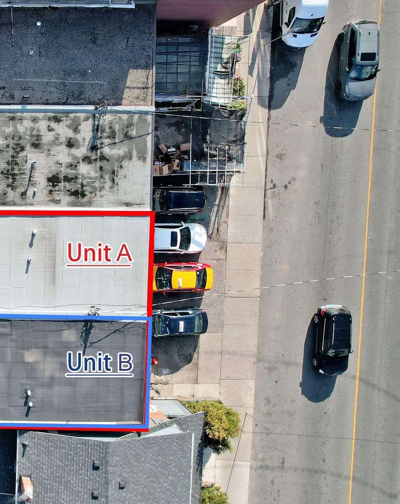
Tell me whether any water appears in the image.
No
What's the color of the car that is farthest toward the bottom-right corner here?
black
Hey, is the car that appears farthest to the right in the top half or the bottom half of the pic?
top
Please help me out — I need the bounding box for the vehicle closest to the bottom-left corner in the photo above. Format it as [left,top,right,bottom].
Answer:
[149,305,208,341]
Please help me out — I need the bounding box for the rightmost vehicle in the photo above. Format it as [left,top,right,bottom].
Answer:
[334,21,383,102]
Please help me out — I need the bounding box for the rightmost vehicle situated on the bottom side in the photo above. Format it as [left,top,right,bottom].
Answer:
[309,302,354,374]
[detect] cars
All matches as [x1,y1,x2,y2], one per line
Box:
[334,21,383,102]
[153,183,211,218]
[151,261,214,295]
[149,305,208,341]
[152,222,207,256]
[309,302,354,374]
